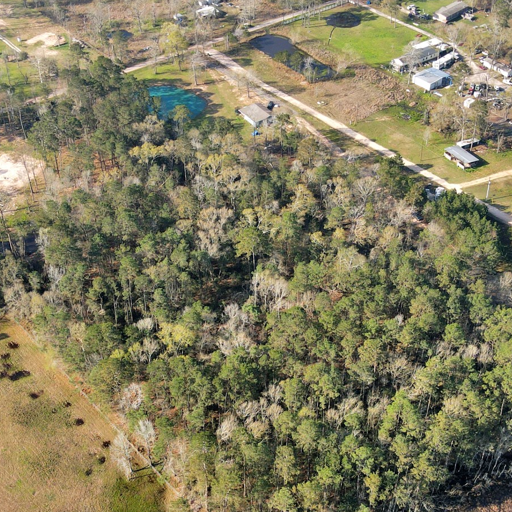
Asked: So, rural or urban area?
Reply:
rural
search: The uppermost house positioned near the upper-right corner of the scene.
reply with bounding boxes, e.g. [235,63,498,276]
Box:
[429,2,470,26]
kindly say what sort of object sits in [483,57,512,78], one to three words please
house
